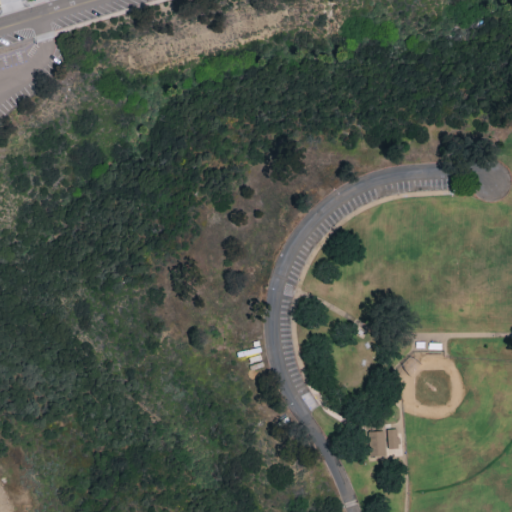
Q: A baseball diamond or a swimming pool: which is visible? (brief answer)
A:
baseball diamond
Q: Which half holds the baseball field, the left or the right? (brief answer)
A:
right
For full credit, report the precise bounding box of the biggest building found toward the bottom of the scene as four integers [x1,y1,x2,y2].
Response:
[370,431,386,458]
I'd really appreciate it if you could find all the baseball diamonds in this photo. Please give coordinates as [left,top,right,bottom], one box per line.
[400,352,465,419]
